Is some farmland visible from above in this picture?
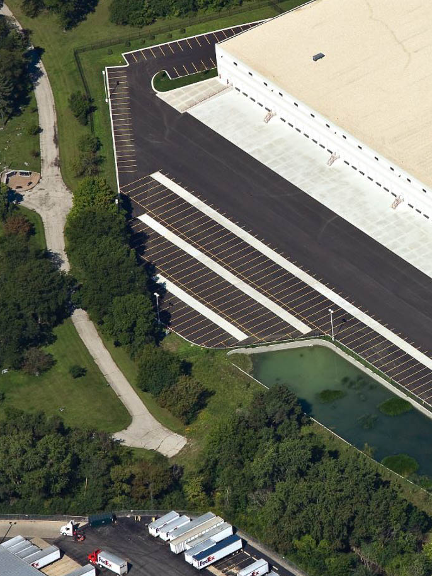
No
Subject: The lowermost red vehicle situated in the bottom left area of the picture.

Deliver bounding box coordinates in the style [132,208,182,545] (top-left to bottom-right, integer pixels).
[87,552,107,570]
